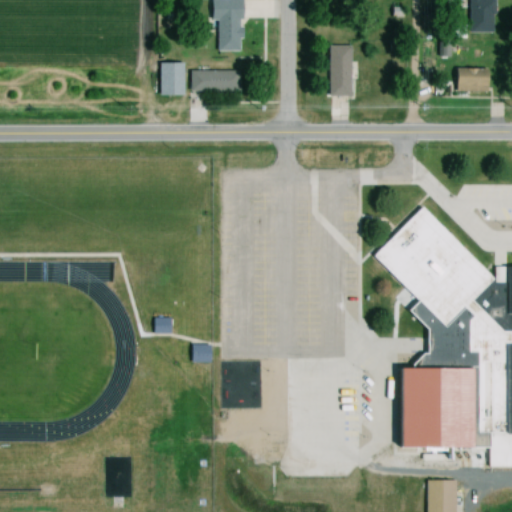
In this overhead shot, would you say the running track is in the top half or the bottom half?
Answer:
bottom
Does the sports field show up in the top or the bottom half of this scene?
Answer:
bottom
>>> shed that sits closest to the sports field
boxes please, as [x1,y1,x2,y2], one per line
[154,316,172,333]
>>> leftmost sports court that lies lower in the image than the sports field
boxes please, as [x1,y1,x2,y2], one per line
[106,457,132,508]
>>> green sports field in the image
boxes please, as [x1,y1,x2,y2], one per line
[0,281,116,422]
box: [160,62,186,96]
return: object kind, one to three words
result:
building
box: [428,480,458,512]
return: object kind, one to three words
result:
building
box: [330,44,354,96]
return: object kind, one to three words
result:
house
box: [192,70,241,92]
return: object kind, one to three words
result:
house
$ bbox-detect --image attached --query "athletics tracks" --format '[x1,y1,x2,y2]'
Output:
[0,262,136,441]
